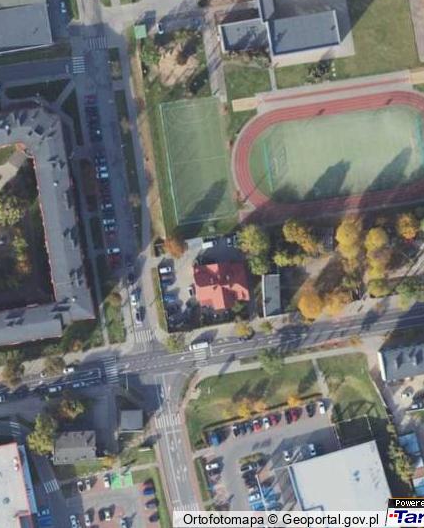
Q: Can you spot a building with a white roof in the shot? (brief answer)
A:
Yes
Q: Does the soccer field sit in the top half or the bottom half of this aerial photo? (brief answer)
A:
top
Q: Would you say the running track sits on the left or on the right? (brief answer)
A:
right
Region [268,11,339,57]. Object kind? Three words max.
building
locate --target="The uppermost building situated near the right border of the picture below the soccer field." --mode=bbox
[378,345,424,381]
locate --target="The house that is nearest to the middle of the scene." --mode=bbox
[193,262,251,309]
